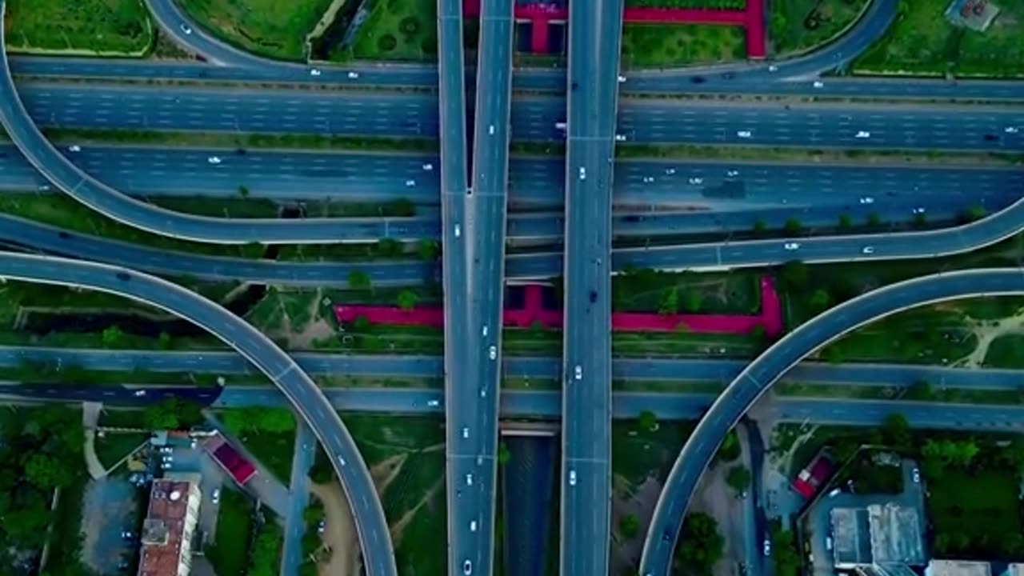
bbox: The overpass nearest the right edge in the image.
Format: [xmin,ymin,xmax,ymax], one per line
[561,0,623,576]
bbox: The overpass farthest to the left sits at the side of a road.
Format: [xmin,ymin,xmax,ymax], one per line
[437,0,514,576]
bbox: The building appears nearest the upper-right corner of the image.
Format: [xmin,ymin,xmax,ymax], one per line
[943,0,1000,33]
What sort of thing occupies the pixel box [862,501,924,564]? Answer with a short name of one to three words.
building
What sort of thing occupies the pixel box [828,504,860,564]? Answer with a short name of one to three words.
building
